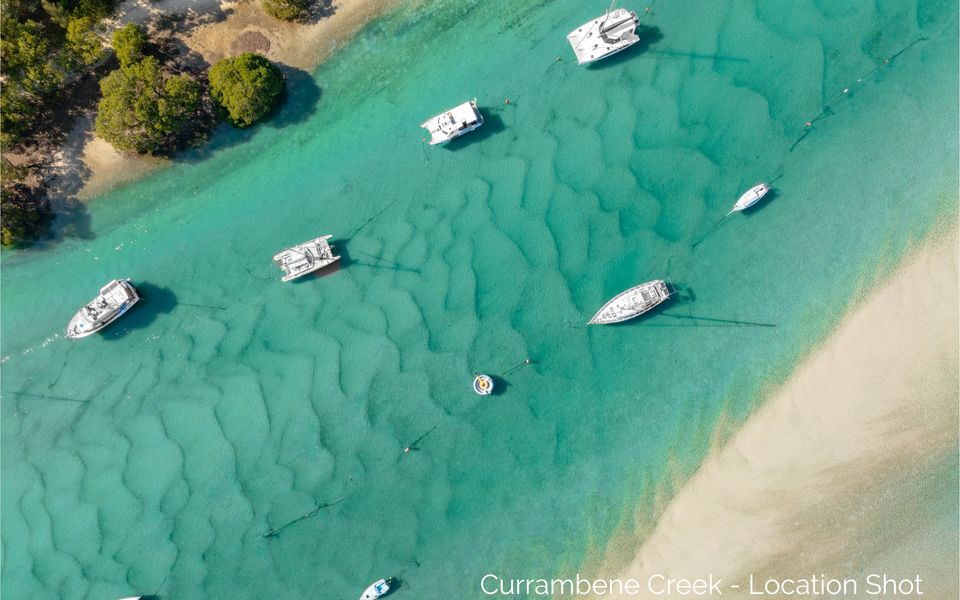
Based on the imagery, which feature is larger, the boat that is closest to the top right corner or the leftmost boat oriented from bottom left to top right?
the leftmost boat oriented from bottom left to top right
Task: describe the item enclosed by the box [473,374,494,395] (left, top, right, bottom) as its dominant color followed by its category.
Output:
white boat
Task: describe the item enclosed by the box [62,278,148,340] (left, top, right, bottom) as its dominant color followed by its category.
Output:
white boat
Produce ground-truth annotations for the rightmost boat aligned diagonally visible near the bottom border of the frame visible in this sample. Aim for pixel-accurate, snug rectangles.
[359,577,390,600]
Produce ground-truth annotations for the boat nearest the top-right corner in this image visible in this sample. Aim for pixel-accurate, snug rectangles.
[728,183,769,216]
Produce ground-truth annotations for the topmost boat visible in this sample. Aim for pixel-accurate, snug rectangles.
[566,0,643,68]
